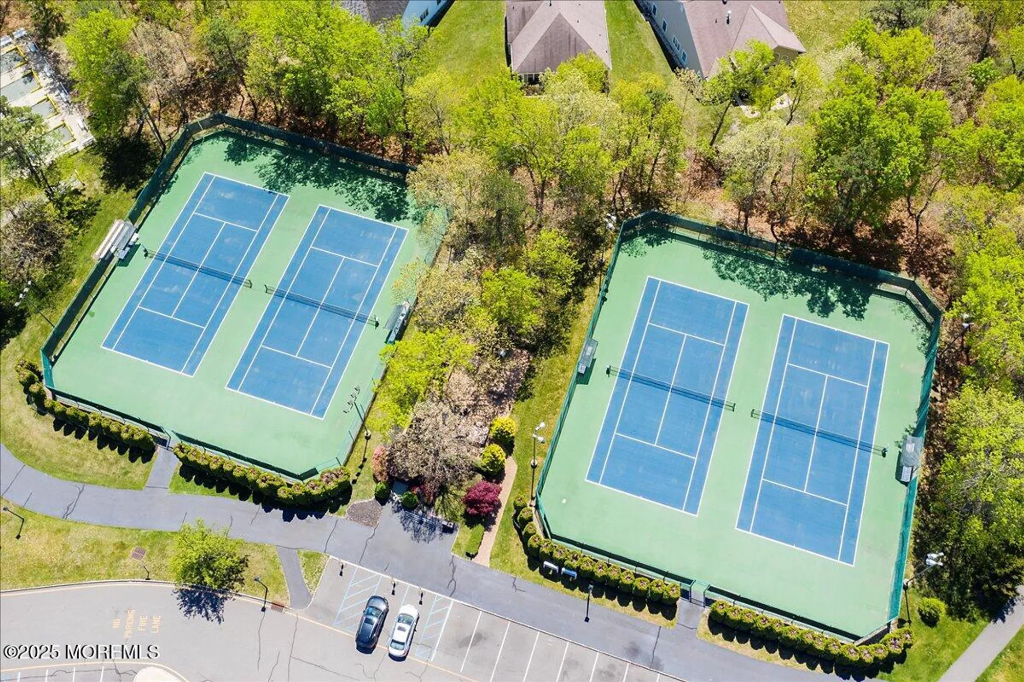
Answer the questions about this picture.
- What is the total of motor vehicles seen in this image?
two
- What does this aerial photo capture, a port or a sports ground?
sports ground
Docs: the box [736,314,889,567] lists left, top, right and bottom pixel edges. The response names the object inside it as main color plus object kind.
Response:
blue tennis court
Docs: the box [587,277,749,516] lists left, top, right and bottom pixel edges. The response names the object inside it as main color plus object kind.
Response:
blue tennis court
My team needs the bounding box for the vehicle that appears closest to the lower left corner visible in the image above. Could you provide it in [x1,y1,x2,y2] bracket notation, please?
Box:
[356,596,386,650]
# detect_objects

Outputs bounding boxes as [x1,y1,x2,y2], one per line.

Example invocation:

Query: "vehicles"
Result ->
[356,596,386,650]
[388,605,418,660]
